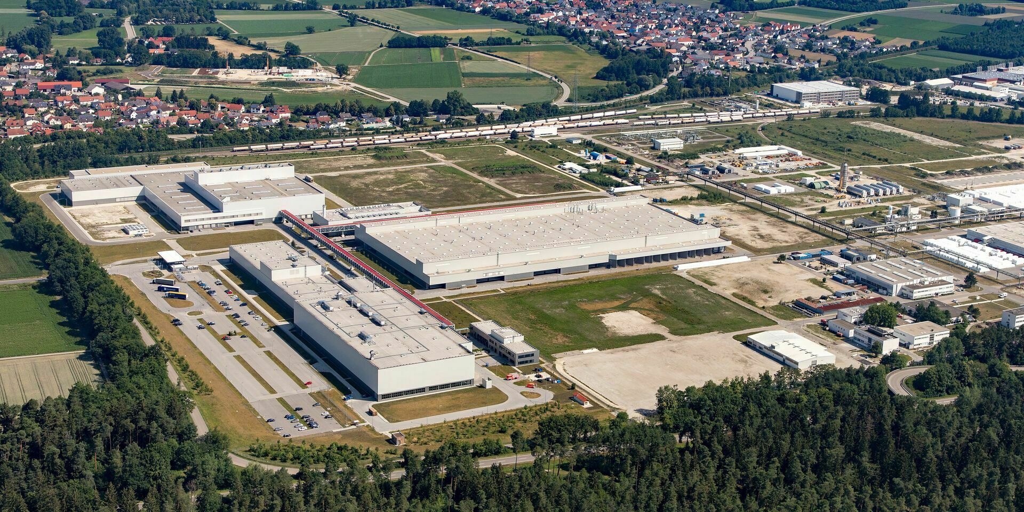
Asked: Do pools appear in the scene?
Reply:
No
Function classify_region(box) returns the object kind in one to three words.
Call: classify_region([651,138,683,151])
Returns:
building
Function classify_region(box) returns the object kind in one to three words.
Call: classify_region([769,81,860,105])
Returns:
building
